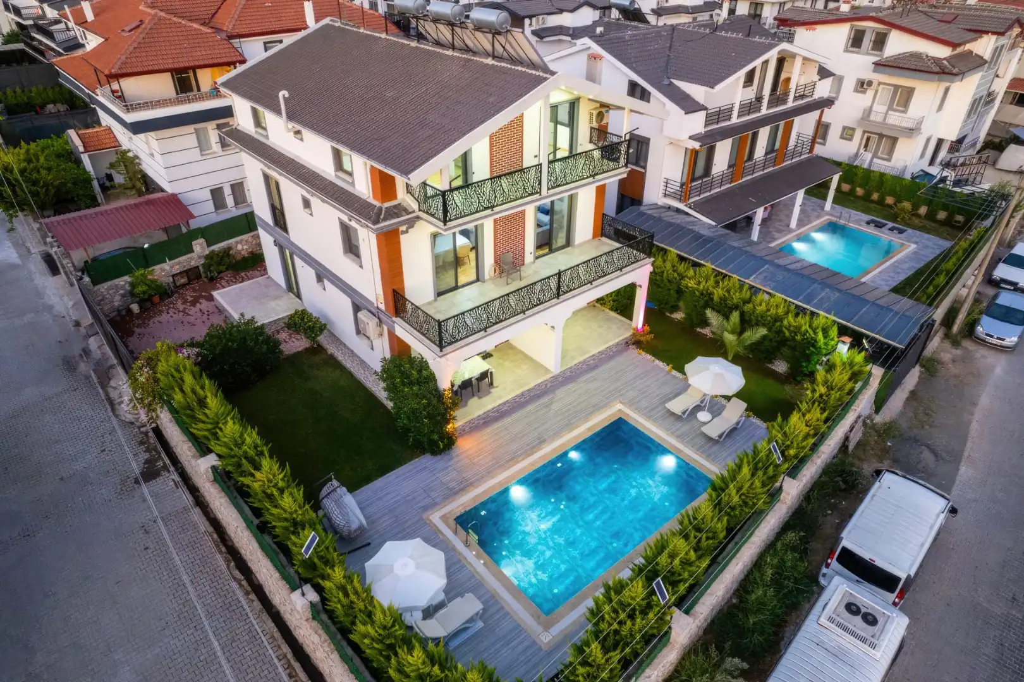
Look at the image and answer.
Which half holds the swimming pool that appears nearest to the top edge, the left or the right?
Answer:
right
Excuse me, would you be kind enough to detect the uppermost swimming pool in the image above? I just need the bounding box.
[765,216,923,283]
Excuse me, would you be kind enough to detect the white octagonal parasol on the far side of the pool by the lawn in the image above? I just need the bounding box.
[681,357,745,421]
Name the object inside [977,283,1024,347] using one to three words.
car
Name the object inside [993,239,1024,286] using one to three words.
car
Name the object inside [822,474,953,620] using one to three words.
van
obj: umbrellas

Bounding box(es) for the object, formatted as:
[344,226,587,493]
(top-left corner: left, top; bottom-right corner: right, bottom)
[681,357,745,421]
[358,537,449,627]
